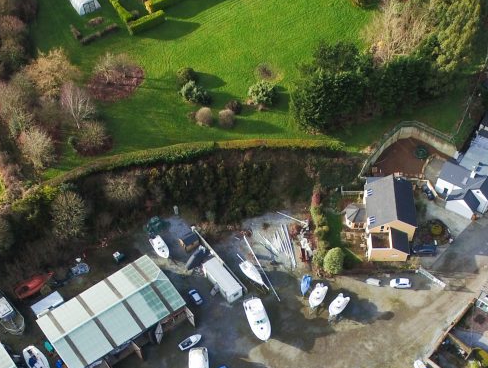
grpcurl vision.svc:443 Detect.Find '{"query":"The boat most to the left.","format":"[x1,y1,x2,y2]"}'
[0,288,24,335]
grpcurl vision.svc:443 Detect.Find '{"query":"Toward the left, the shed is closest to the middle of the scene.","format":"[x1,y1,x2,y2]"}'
[179,232,201,253]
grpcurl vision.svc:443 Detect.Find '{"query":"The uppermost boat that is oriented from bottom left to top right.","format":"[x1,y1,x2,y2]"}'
[184,246,210,272]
